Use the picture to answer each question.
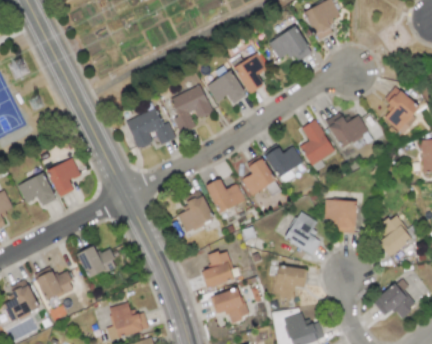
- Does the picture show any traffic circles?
No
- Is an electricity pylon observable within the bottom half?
No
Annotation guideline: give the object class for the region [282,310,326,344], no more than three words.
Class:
house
